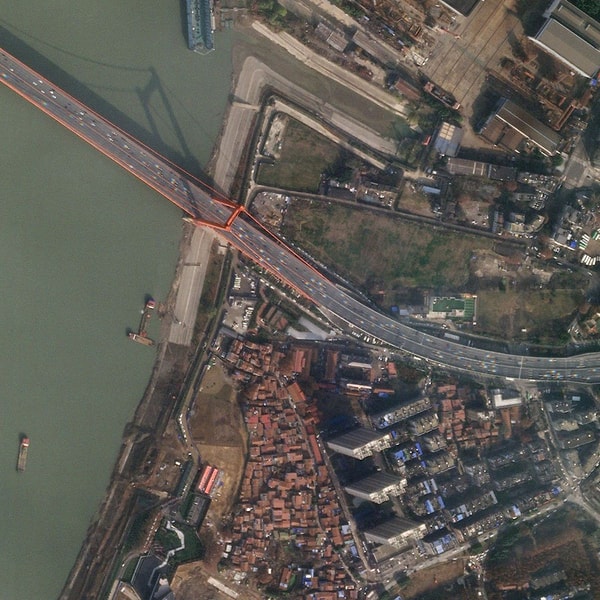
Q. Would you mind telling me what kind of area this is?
port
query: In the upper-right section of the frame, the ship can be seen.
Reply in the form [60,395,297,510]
[422,86,459,111]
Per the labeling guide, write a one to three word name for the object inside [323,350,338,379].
building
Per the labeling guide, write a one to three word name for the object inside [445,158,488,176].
shed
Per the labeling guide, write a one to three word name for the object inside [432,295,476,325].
sports court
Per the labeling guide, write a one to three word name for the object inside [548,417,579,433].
building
